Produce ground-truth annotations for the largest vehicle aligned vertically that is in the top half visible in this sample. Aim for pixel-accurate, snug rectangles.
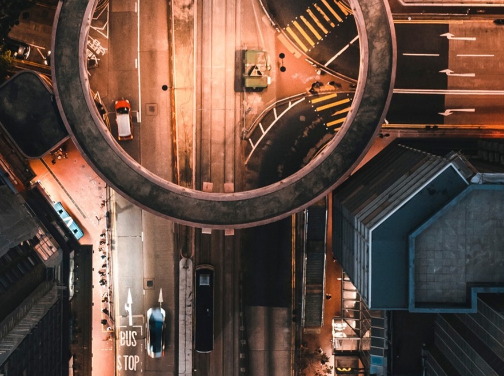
[114,97,132,141]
